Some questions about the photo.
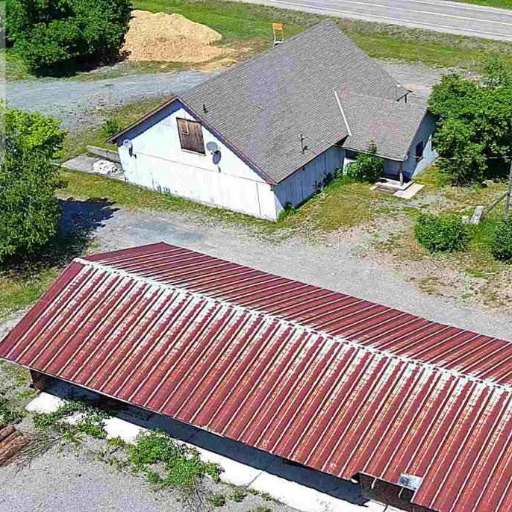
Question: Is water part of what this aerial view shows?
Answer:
No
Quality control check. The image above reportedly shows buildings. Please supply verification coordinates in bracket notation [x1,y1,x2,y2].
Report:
[0,241,512,512]
[105,20,446,220]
